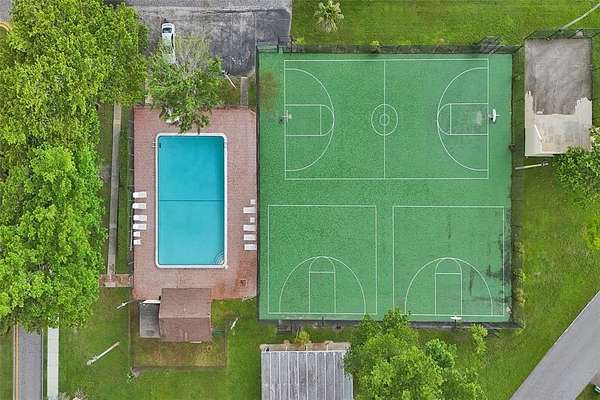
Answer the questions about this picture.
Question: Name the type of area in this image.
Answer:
sports ground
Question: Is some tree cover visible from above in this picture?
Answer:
Yes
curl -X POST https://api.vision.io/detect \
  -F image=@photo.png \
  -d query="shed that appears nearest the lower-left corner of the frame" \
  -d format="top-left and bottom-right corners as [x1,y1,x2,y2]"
[156,287,213,343]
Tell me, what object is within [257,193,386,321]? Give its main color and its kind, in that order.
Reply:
green basketball court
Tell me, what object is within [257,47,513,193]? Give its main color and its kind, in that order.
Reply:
green basketball court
